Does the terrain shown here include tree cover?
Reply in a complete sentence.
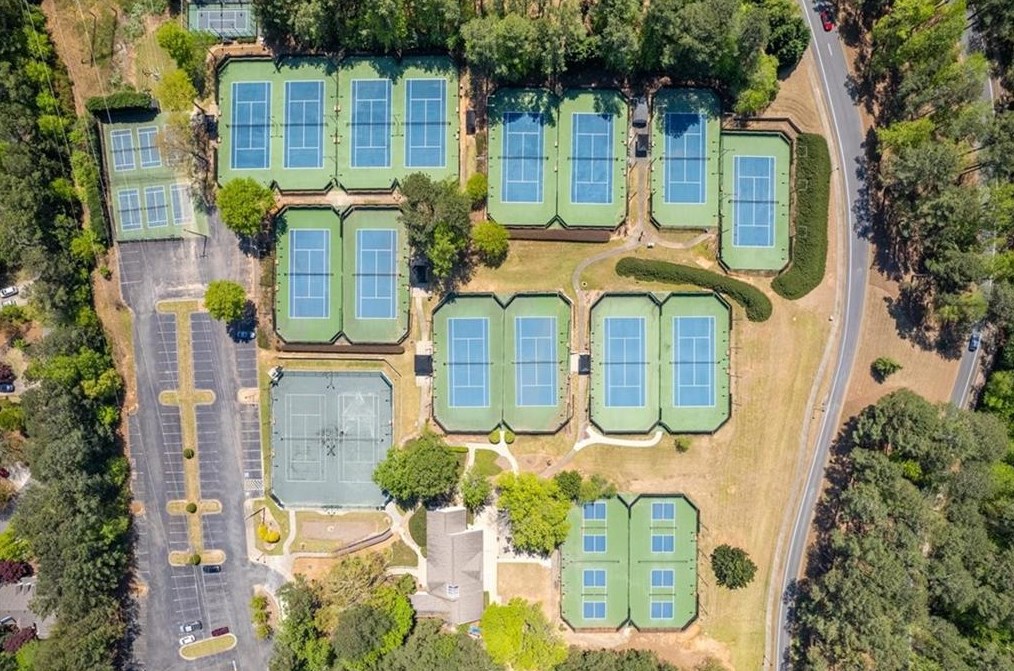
Yes, some tree cover is visible.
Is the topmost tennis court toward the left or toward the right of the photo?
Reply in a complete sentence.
The topmost tennis court sits on the left side.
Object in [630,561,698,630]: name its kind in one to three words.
sports court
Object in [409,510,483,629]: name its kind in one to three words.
building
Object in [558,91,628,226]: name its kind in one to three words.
tennis court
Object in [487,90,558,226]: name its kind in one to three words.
tennis court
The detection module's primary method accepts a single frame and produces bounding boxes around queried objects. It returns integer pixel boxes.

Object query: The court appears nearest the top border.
[189,3,255,37]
